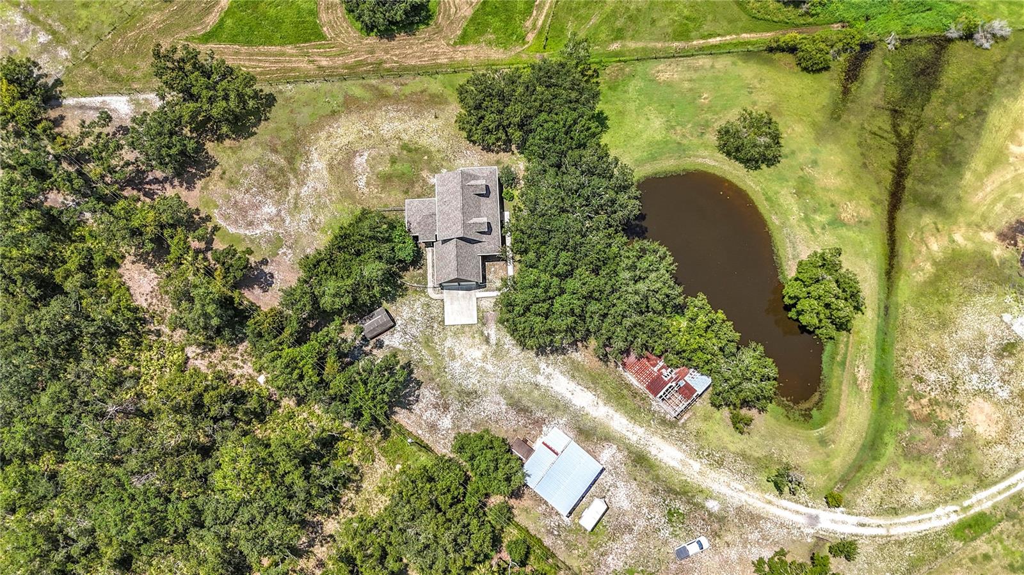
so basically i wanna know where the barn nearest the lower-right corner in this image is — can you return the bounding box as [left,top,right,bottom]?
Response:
[613,334,712,420]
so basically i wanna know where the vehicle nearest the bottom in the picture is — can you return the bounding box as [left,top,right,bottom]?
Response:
[675,539,710,561]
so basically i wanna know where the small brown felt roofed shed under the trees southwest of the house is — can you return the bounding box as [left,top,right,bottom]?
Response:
[358,308,393,341]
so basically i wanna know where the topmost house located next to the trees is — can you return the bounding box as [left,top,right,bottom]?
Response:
[405,163,502,289]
